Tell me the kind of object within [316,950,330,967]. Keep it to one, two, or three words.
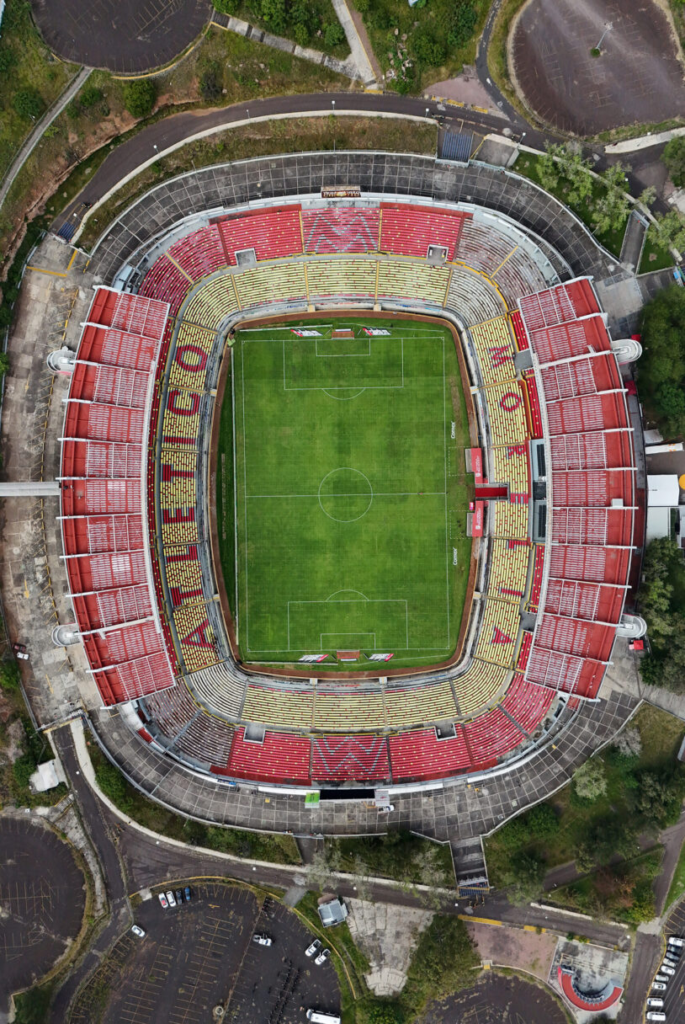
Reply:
vehicle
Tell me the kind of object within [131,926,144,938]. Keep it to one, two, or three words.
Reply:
vehicle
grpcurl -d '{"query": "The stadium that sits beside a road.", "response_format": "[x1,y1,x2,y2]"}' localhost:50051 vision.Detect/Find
[49,192,645,797]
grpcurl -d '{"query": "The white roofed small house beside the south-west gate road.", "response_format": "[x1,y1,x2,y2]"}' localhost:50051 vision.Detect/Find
[30,756,63,792]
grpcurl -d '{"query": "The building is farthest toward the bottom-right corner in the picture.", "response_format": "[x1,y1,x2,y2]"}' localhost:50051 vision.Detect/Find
[556,965,624,1012]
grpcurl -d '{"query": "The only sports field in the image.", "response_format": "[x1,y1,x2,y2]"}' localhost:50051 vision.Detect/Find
[209,310,480,678]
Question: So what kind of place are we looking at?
sports ground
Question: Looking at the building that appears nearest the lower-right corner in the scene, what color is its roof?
red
